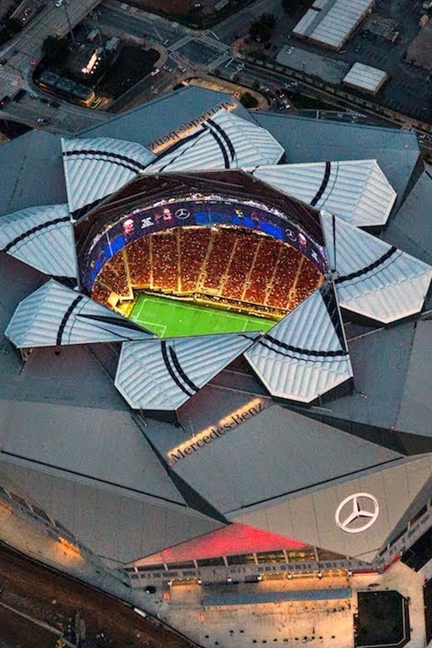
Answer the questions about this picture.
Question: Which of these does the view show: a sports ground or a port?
sports ground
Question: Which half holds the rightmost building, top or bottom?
top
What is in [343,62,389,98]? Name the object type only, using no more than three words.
building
